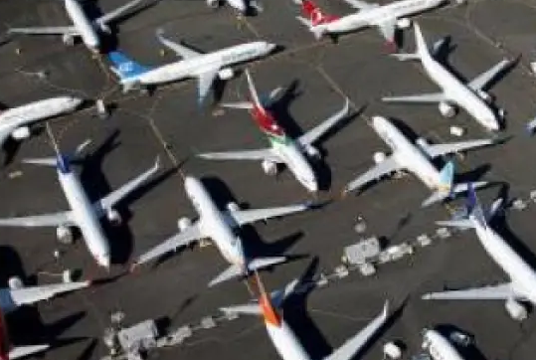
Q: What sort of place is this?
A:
airport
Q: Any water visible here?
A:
No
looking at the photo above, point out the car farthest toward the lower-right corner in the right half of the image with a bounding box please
[450,327,472,343]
